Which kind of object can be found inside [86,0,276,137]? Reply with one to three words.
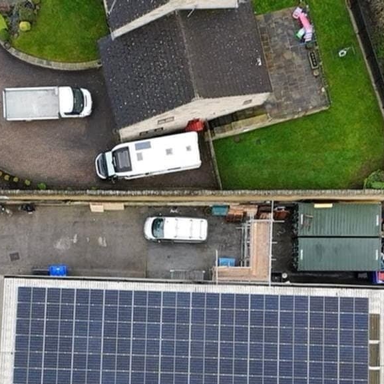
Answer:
house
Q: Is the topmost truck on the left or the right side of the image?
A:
left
